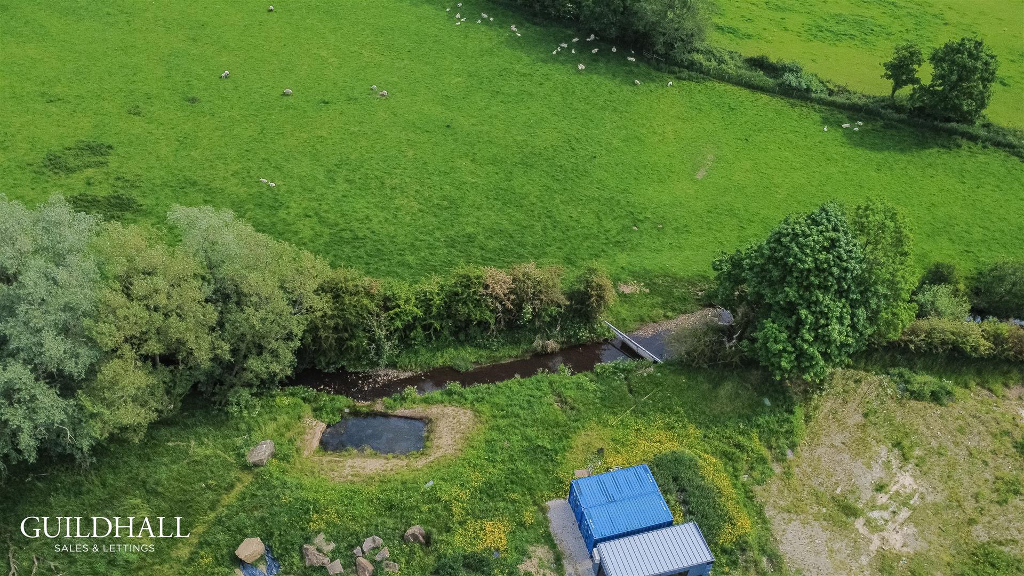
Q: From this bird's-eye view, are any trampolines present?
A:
No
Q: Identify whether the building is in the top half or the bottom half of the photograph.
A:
bottom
